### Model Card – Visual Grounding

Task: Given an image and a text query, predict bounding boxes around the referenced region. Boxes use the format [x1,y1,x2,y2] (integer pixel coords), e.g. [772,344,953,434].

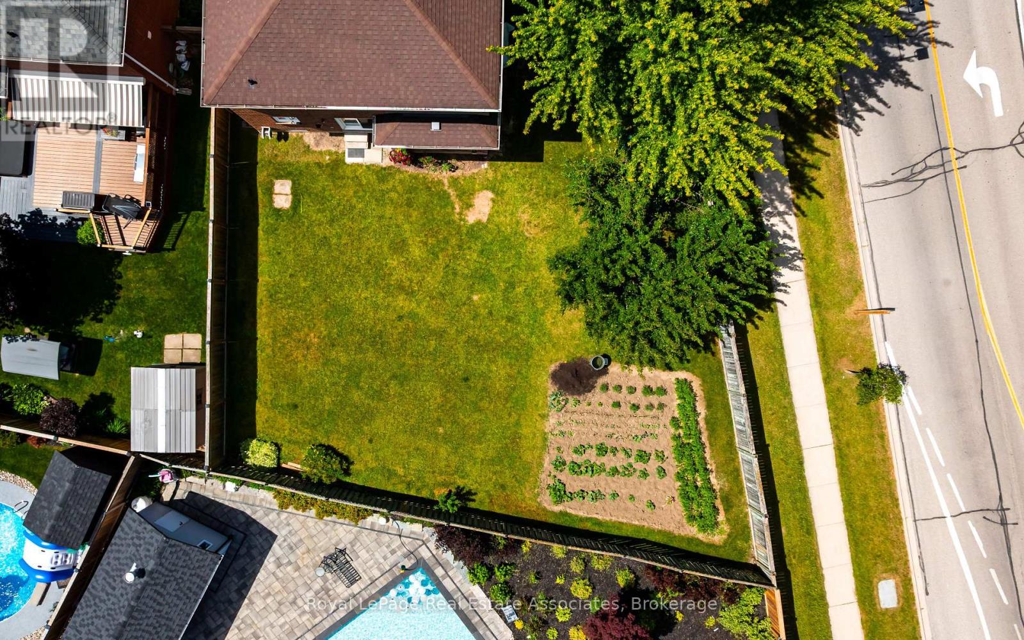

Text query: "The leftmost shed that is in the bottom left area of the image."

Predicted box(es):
[23,447,126,550]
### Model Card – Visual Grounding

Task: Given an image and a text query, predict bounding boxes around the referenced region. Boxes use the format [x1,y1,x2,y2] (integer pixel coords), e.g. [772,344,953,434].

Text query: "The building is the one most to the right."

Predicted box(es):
[200,0,506,157]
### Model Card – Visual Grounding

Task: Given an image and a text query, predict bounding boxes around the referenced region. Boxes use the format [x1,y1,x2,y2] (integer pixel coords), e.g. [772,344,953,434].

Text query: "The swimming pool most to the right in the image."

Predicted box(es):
[312,557,484,640]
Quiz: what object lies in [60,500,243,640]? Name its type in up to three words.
building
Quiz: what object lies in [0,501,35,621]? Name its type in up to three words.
swimming pool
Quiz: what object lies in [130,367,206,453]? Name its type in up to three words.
shed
